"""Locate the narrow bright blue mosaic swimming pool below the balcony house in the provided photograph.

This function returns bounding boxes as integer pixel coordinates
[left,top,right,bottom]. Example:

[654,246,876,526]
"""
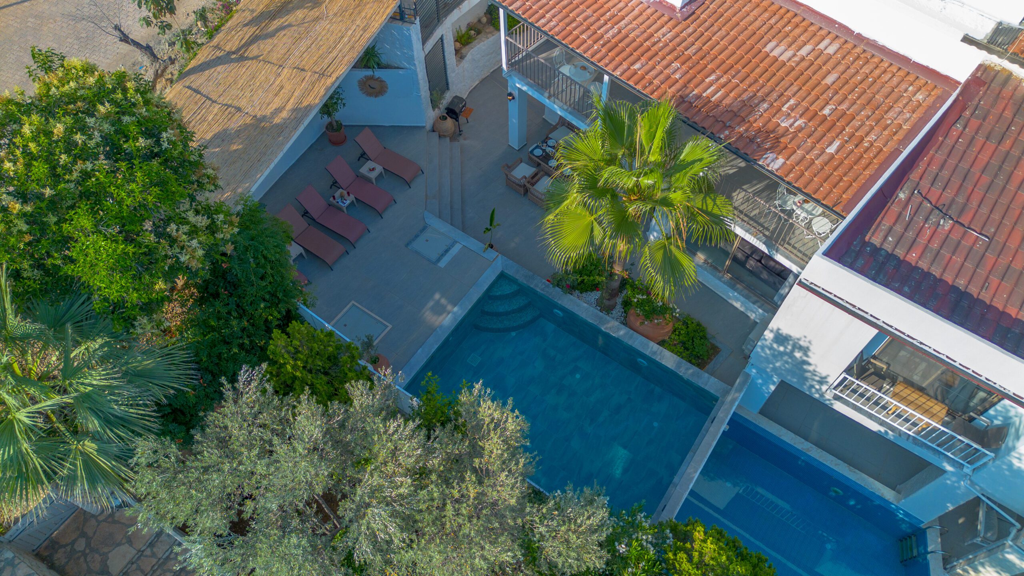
[651,409,947,576]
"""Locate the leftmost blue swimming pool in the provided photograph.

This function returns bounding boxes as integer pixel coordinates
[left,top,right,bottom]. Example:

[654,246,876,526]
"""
[401,257,733,539]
